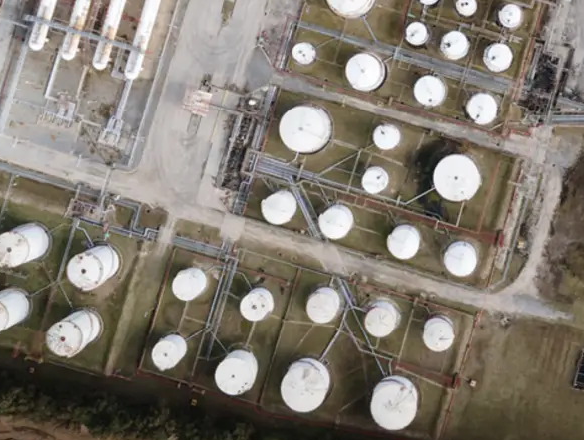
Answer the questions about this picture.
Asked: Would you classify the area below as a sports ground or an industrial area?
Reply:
industrial area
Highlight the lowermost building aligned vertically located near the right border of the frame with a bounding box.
[524,45,570,126]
